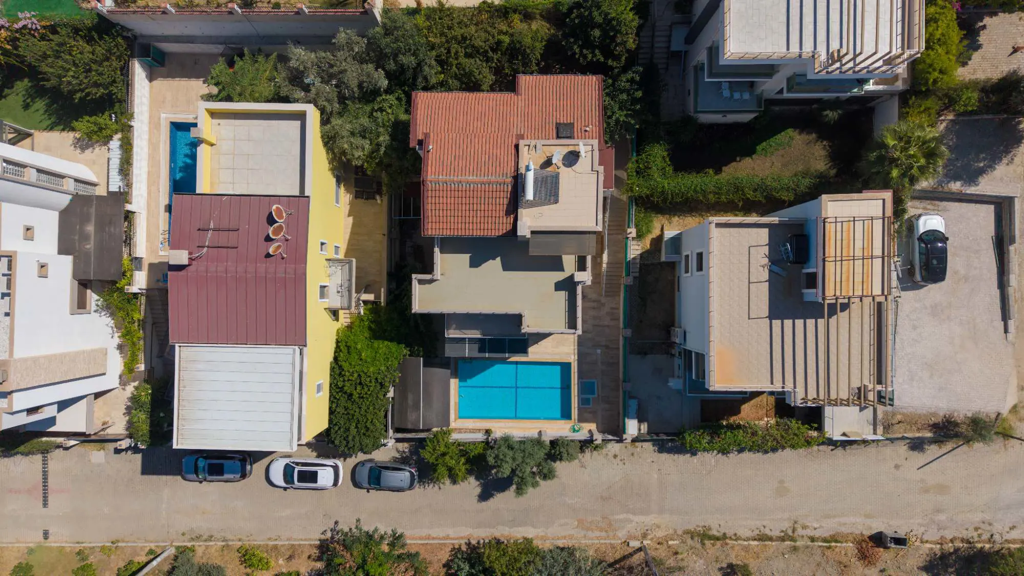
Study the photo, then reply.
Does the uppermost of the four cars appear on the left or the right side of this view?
right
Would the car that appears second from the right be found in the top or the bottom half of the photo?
bottom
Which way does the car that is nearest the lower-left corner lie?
from left to right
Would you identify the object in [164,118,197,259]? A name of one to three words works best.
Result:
swimming pool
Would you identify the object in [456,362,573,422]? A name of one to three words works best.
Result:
swimming pool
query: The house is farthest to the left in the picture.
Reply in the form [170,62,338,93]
[0,139,133,438]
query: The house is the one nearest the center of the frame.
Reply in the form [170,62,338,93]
[408,72,614,357]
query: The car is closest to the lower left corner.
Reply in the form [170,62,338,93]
[183,450,256,487]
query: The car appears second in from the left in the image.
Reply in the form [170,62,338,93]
[270,455,346,493]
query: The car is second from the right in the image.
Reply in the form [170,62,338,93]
[356,458,420,494]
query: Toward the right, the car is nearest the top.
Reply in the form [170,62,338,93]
[912,215,954,284]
